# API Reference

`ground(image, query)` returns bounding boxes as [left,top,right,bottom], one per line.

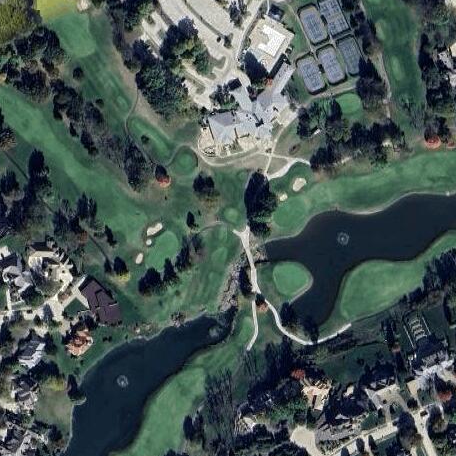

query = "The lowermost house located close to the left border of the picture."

[0,421,52,456]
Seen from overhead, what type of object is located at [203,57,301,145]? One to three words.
building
